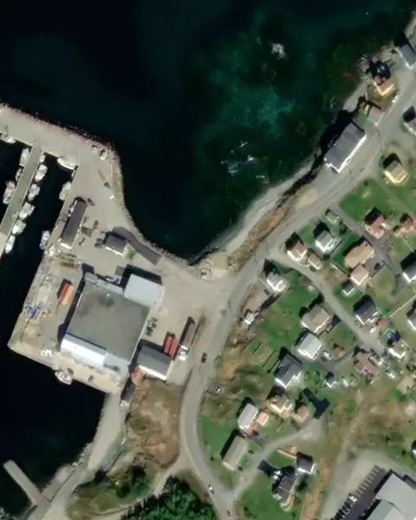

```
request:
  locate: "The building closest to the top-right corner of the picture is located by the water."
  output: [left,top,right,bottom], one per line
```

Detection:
[397,42,416,70]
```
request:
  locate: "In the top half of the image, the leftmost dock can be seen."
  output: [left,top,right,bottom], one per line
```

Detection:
[0,145,44,261]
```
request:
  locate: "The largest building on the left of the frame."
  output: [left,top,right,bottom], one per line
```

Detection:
[61,272,163,381]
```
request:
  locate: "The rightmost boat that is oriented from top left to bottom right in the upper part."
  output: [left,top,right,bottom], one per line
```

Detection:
[57,157,76,171]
